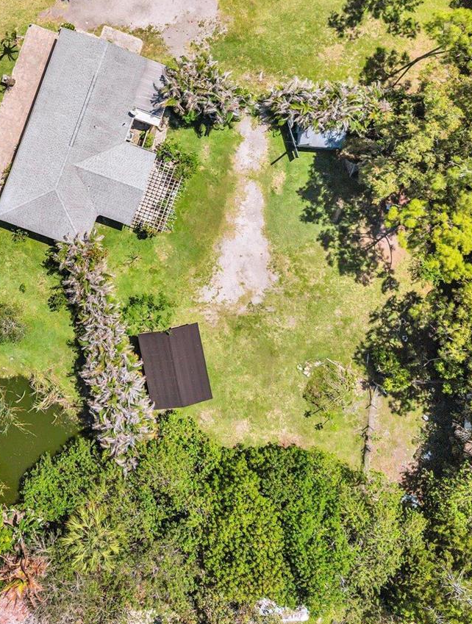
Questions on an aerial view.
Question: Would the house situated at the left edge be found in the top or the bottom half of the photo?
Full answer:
The top half of the photo is where the house situated at the left edge is.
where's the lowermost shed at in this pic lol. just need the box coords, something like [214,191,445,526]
[138,322,212,409]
